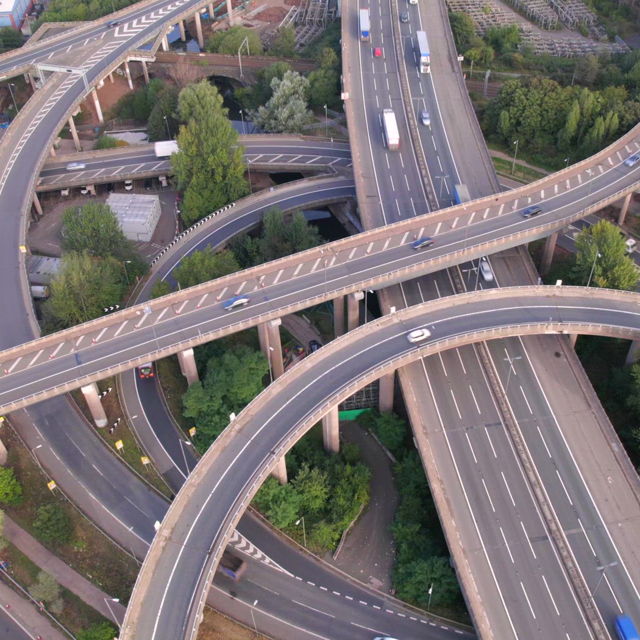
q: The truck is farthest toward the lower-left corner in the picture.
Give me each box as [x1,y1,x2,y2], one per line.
[216,551,255,585]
